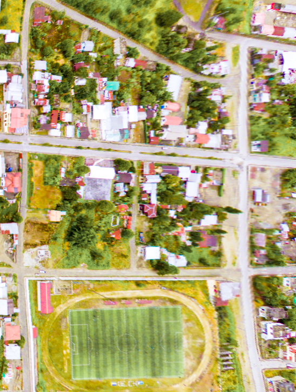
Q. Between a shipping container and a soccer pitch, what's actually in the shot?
soccer pitch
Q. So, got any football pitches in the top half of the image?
No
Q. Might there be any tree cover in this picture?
Yes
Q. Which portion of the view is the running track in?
bottom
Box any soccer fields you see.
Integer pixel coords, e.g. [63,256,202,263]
[69,306,187,380]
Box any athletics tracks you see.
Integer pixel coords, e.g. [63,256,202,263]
[41,290,213,392]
